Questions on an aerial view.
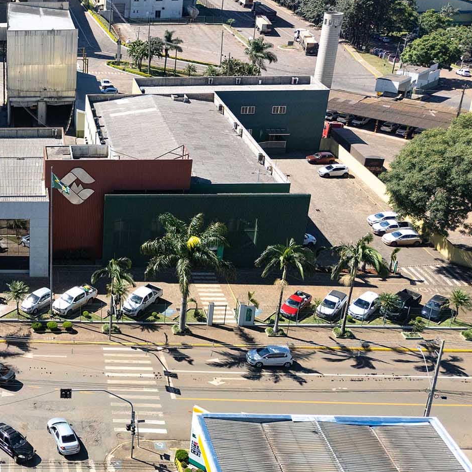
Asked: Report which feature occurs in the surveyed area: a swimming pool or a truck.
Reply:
truck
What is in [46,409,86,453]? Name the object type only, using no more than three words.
car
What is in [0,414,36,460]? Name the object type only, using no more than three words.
car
